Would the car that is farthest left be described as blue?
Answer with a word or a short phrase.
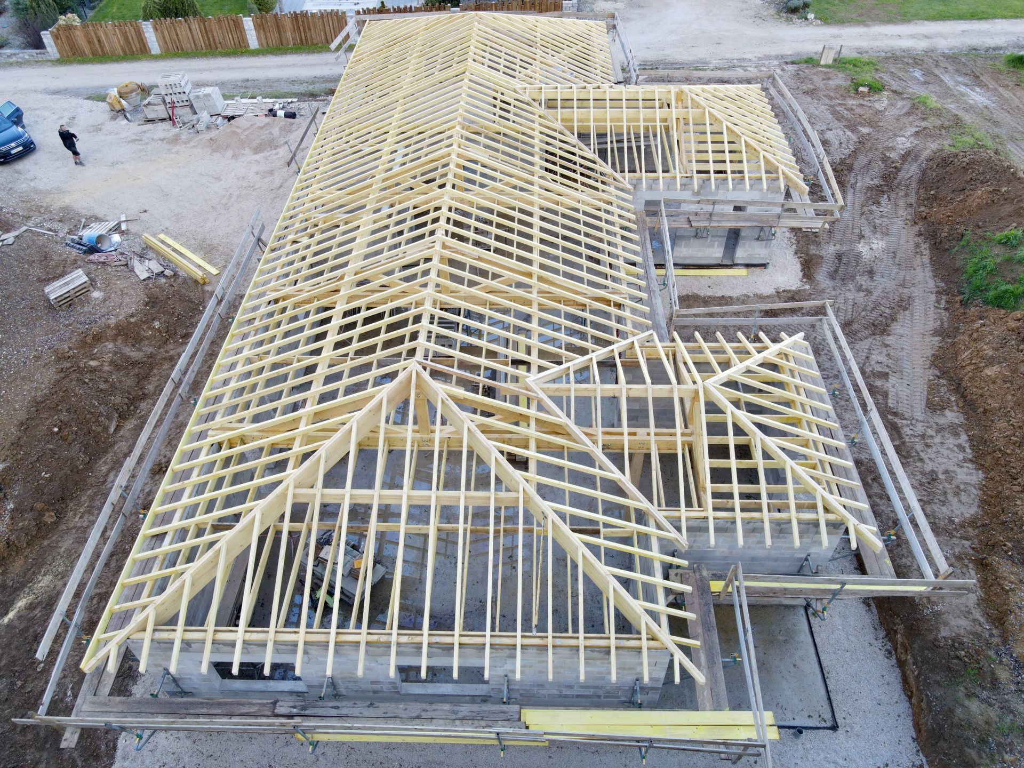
Yes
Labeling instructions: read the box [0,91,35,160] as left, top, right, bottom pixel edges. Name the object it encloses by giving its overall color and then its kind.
blue car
